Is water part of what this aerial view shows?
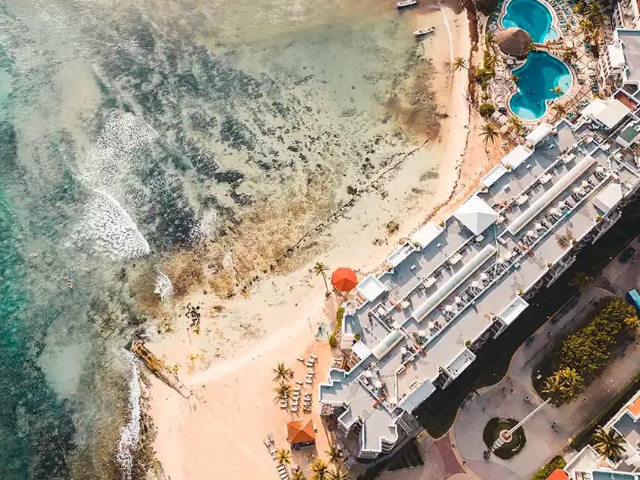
Yes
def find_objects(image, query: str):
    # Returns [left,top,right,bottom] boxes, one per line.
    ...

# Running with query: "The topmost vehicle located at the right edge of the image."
[622,246,637,260]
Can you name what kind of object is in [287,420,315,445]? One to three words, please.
gazebo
